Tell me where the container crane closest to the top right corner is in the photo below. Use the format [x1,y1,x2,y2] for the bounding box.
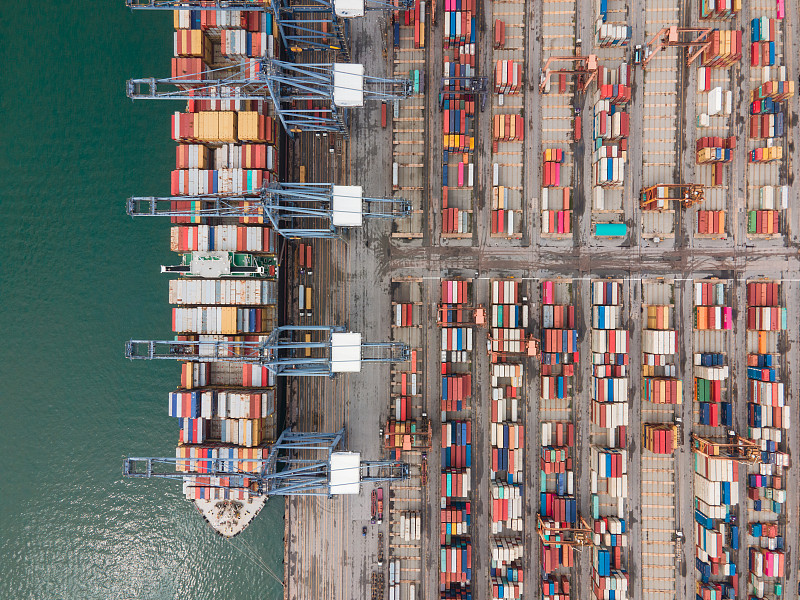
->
[642,20,712,67]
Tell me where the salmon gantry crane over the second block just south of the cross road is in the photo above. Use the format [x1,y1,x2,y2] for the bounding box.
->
[438,302,488,328]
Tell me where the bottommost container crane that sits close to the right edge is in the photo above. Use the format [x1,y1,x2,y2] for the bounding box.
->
[692,432,766,466]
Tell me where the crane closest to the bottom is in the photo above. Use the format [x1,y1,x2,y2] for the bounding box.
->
[538,507,593,548]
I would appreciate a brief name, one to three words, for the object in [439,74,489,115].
container crane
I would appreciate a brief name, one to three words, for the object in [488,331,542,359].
container crane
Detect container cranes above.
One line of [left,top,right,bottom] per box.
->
[119,316,404,380]
[120,182,405,248]
[384,414,432,449]
[538,507,593,548]
[540,52,599,95]
[438,302,488,328]
[642,20,712,67]
[641,182,706,210]
[488,331,542,359]
[692,432,766,466]
[439,74,489,115]
[122,0,406,70]
[118,416,403,500]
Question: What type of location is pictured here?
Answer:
port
